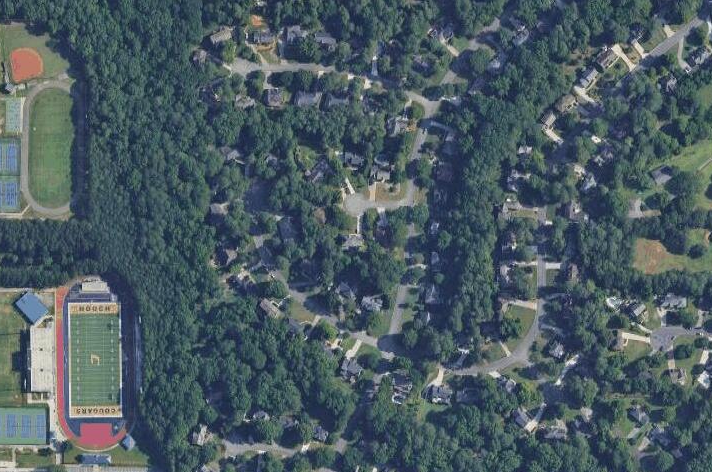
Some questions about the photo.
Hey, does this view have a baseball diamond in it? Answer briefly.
Yes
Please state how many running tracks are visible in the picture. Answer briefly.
2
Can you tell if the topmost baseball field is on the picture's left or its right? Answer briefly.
left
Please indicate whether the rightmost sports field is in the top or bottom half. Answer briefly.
bottom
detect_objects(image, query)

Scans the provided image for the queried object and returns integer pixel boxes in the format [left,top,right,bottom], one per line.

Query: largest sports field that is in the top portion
[29,86,77,209]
